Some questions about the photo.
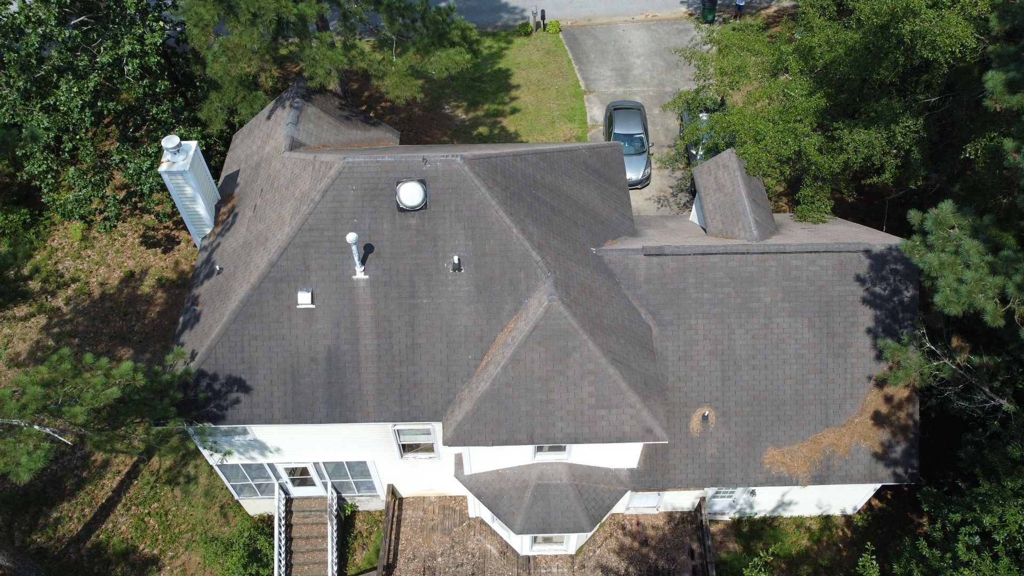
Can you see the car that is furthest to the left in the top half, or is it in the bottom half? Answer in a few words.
top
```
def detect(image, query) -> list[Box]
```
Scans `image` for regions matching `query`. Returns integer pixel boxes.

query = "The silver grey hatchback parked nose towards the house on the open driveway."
[599,101,656,193]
